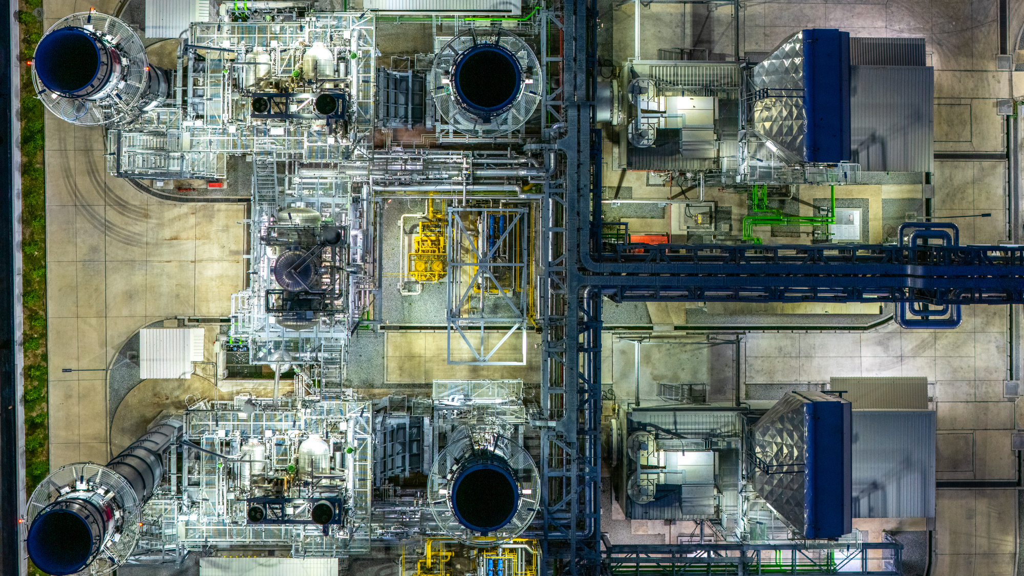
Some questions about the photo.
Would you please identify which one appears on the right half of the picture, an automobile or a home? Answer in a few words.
home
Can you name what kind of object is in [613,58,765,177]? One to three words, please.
house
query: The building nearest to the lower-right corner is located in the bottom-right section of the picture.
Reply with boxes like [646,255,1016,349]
[851,406,935,517]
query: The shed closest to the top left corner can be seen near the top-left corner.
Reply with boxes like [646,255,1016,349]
[145,0,214,41]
